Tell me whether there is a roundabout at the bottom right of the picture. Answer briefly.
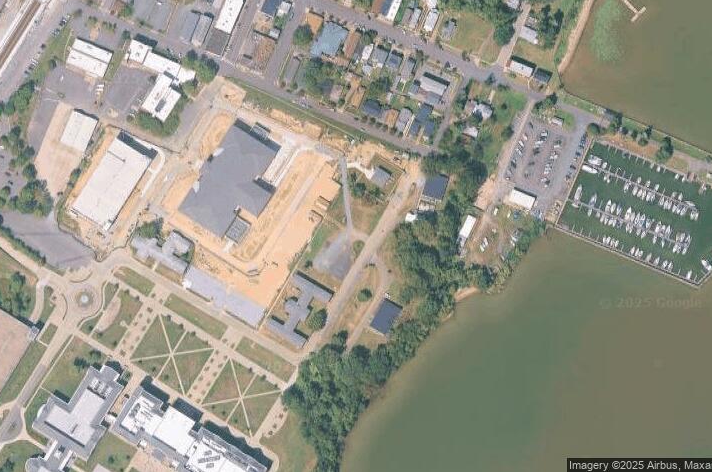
No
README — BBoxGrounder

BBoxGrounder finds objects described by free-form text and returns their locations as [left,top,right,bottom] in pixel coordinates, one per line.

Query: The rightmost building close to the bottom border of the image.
[112,387,267,472]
